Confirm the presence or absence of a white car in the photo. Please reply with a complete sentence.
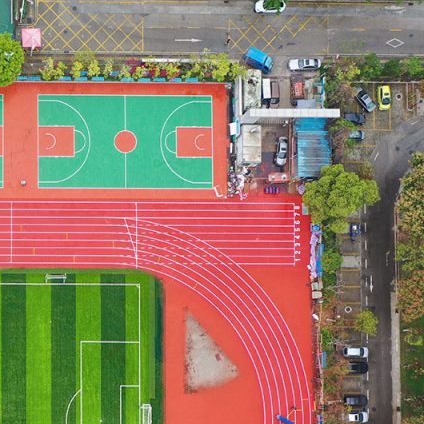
Yes, there's a white car down there.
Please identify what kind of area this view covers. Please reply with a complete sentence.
This looks like a sports ground.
